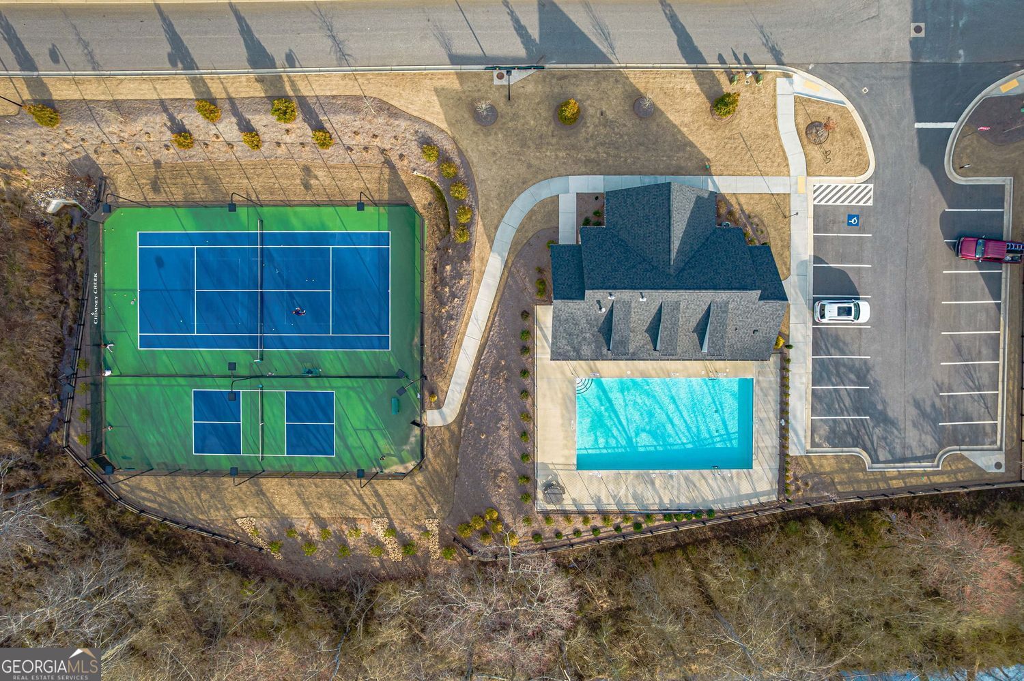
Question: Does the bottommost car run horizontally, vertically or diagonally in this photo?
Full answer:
What the image shows is the bottommost car lying horizontally.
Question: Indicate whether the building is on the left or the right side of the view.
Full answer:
The building is on the right side of the image.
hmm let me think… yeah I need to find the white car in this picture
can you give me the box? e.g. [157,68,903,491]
[813,298,869,325]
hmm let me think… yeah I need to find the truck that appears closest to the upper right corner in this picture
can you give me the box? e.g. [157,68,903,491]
[953,236,1024,264]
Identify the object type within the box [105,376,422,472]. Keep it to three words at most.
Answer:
sports court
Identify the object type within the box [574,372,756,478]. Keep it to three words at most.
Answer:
swimming pool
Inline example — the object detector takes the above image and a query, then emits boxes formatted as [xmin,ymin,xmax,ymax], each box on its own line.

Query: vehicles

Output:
[813,298,869,325]
[953,236,1024,264]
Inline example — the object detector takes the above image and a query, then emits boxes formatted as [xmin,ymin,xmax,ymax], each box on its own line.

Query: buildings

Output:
[550,181,788,361]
